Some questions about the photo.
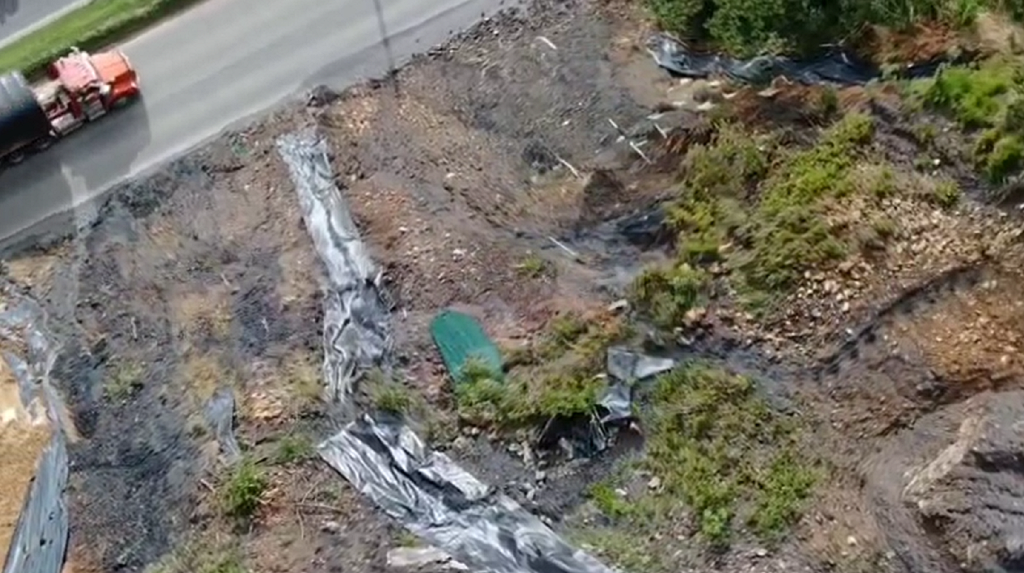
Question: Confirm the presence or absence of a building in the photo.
No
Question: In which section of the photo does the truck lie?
top left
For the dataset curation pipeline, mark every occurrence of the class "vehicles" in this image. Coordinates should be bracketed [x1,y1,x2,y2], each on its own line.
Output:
[0,46,139,158]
